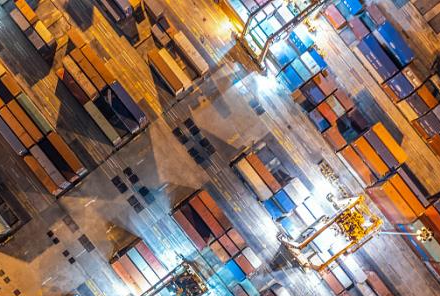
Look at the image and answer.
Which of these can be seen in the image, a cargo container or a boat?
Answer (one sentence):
The image shows a cargo container.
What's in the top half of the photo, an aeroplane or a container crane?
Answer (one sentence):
Looking in the top half of the photo, you will find a container crane.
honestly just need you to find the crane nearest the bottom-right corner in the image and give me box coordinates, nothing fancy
[277,193,383,275]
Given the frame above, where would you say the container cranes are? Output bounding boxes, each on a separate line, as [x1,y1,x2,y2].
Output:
[122,252,213,296]
[277,193,383,275]
[230,0,325,70]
